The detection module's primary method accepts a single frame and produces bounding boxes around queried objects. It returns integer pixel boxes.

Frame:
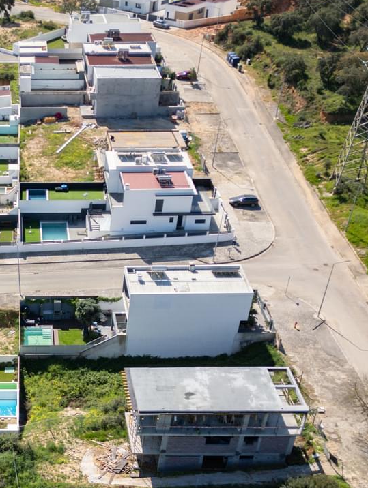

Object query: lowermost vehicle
[229,194,258,207]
